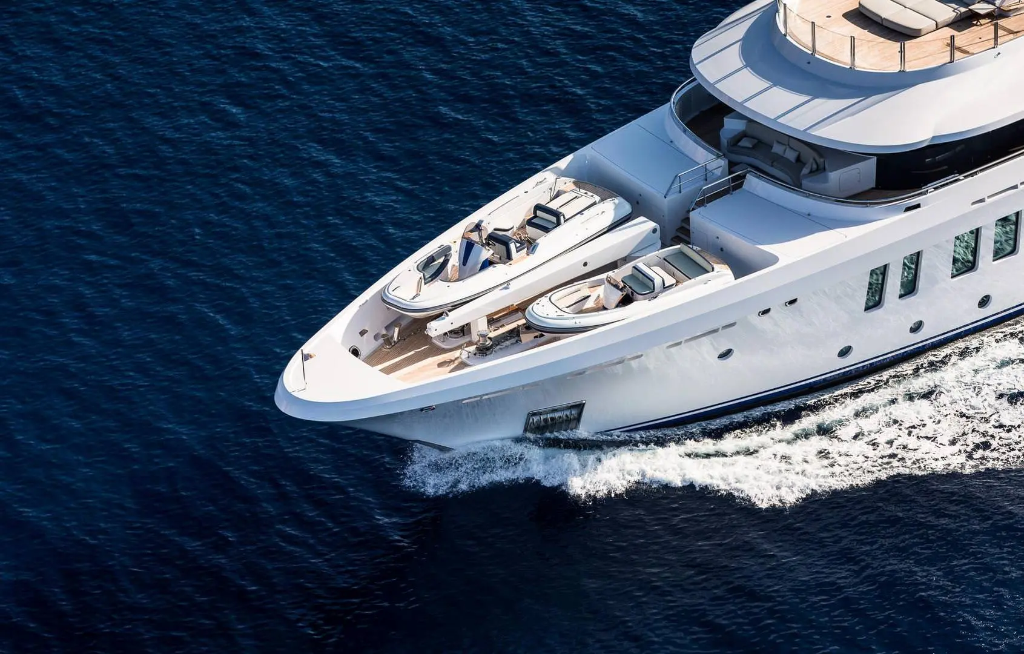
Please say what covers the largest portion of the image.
water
